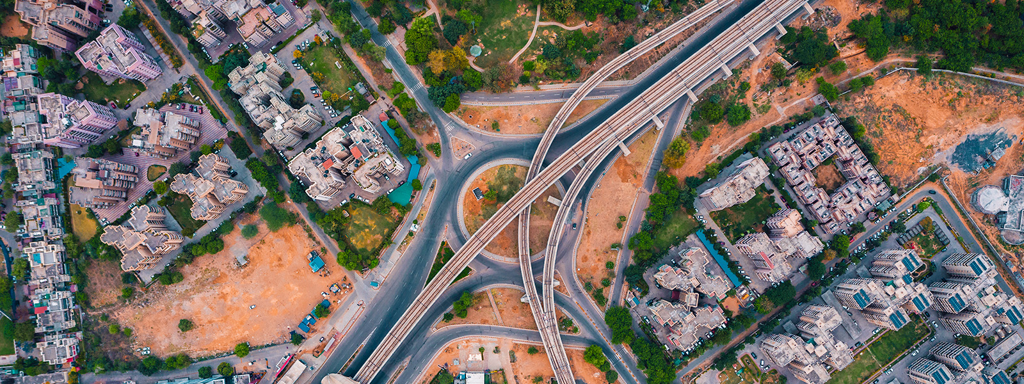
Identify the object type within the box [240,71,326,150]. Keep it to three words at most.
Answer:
building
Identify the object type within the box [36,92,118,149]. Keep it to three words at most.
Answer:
building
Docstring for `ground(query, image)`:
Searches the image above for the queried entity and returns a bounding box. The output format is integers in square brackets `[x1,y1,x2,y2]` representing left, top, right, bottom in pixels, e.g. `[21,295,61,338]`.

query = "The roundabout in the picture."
[438,139,586,284]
